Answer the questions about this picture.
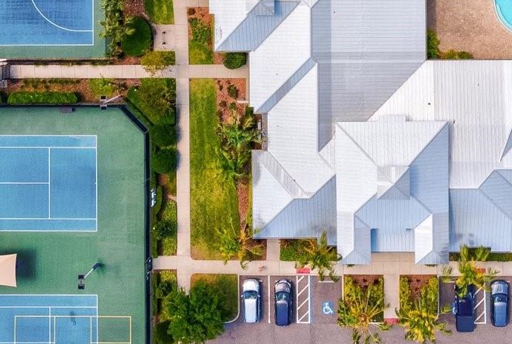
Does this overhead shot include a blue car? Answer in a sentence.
Yes, the image includes a blue car.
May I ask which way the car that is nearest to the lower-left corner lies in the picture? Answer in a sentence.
Seen from above, the car that is nearest to the lower-left corner lies from top to bottom.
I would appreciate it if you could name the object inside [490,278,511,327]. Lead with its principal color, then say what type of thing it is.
blue car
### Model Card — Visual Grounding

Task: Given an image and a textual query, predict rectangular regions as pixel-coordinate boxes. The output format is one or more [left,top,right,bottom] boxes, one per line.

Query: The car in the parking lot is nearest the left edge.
[241,278,261,324]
